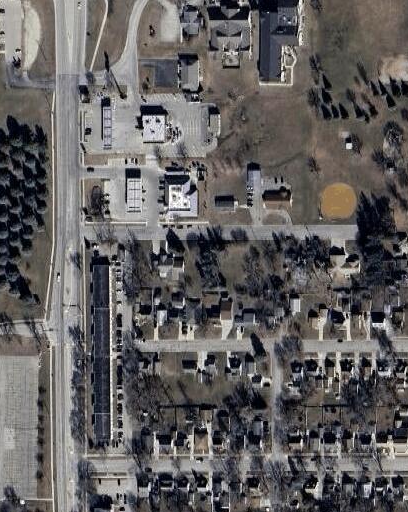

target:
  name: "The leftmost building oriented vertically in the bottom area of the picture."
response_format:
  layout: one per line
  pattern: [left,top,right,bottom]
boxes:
[92,265,109,446]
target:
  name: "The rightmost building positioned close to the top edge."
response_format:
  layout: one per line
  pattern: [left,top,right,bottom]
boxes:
[260,0,299,80]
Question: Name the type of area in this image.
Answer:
residential area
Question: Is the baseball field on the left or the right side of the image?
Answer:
right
